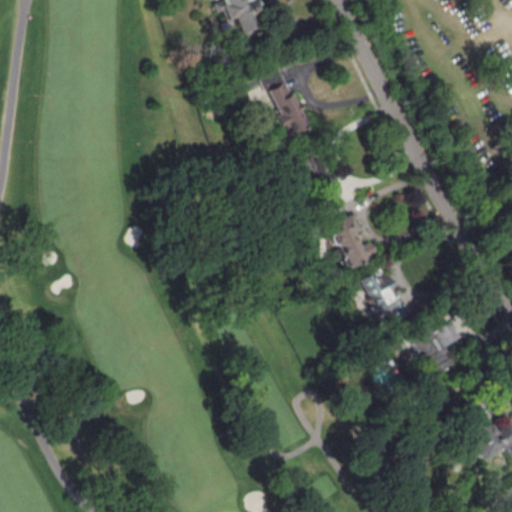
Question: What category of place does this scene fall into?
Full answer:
This image shows a golf course.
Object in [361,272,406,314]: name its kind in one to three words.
house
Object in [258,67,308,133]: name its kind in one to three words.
house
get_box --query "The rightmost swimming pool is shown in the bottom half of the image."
[374,366,388,384]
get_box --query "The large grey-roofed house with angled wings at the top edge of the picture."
[210,0,267,36]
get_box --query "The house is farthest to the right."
[482,421,512,464]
